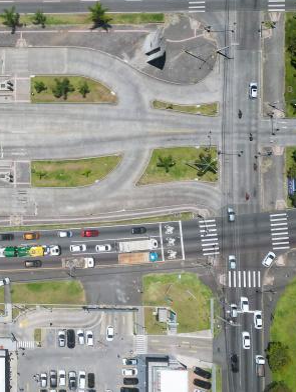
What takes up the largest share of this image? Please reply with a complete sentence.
Most of the picture is covered by paved ground.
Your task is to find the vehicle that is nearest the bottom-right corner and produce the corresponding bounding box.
[253,351,266,376]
